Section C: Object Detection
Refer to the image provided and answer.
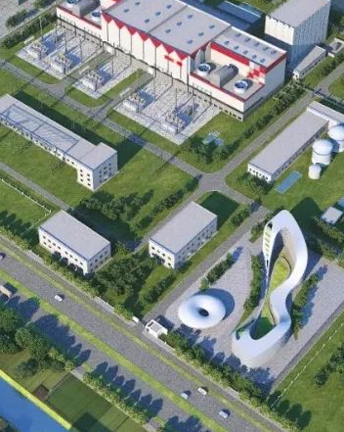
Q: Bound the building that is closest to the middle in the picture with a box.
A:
[149,204,217,266]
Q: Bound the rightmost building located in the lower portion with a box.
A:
[229,211,308,367]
